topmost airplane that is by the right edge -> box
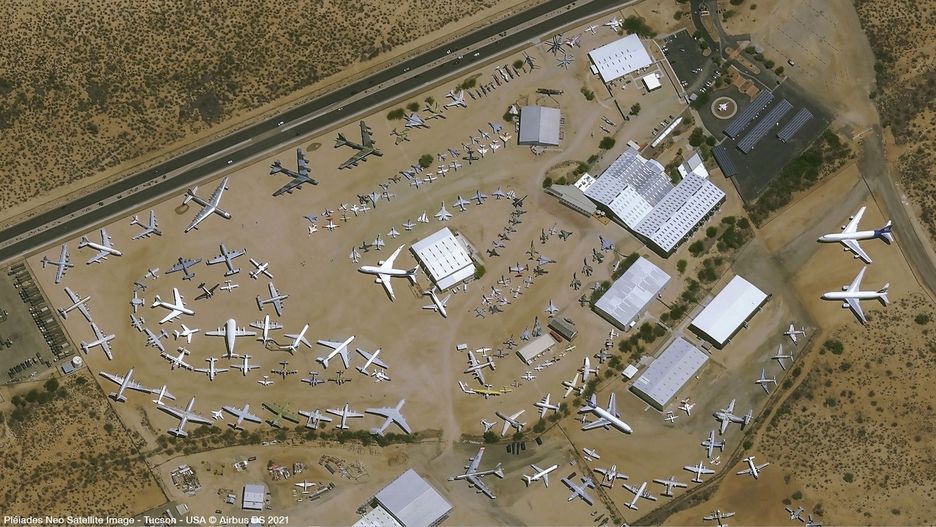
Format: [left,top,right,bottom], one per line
[818,204,895,262]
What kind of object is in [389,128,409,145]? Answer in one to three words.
airplane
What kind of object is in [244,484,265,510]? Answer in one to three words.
building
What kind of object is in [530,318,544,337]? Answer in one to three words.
airplane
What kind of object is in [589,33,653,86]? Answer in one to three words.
hangar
